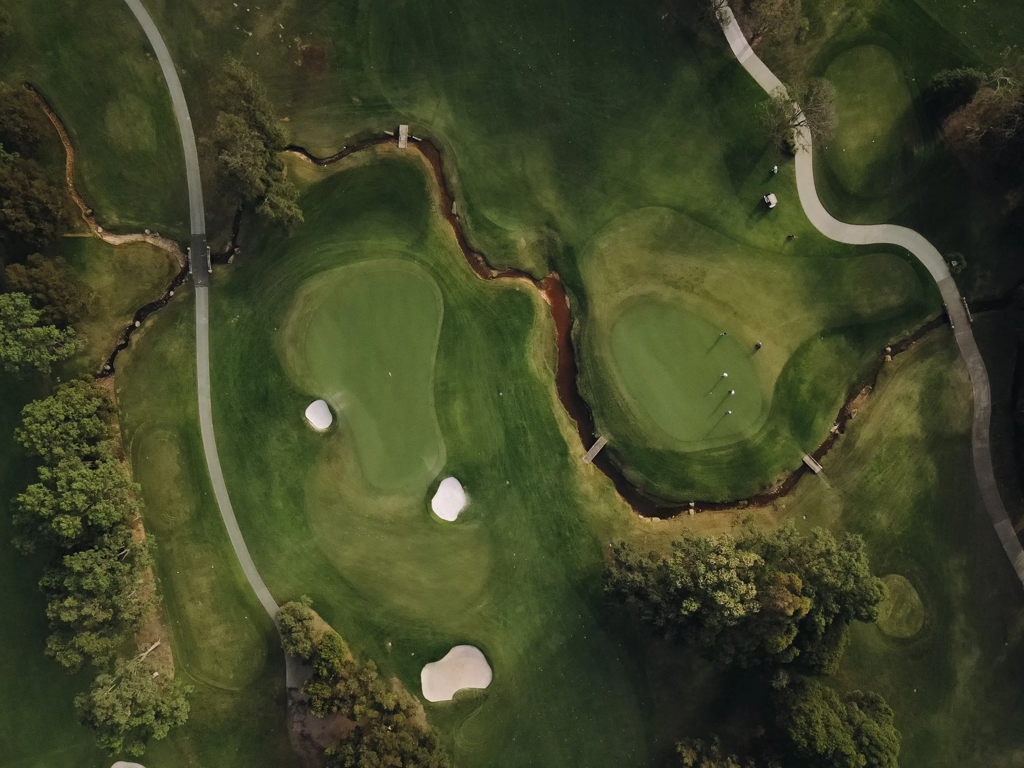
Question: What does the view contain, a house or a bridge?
bridge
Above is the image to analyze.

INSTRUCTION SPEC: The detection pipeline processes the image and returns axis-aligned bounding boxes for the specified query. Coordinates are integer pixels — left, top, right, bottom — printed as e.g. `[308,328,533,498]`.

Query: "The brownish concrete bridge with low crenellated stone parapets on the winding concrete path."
[938,276,976,334]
